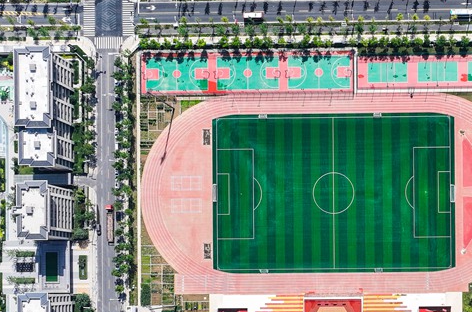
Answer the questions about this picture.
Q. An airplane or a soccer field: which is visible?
soccer field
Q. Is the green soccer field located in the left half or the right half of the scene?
right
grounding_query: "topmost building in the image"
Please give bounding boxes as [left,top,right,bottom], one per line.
[14,47,75,136]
